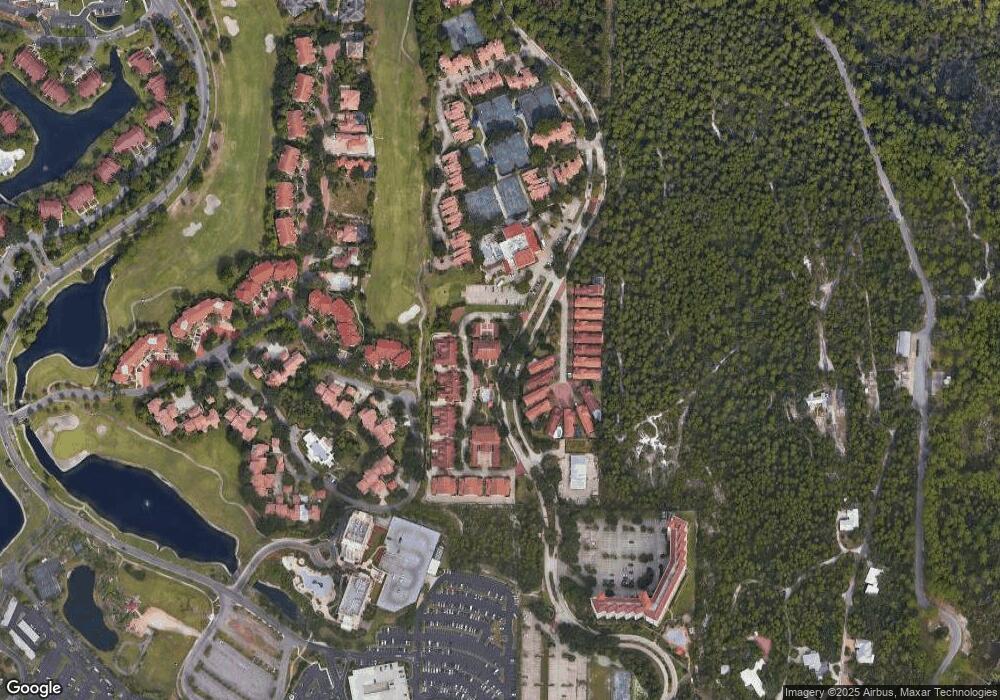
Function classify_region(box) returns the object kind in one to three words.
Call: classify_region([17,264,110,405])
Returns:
pond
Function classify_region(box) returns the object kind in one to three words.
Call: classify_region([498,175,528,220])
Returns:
tennis court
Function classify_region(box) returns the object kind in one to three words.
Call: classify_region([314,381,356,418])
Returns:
house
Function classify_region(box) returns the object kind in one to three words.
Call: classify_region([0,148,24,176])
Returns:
swimming pool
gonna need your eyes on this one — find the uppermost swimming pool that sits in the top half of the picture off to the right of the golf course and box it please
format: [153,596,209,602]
[480,230,506,267]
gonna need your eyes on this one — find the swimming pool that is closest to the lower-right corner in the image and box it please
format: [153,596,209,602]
[663,625,690,646]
